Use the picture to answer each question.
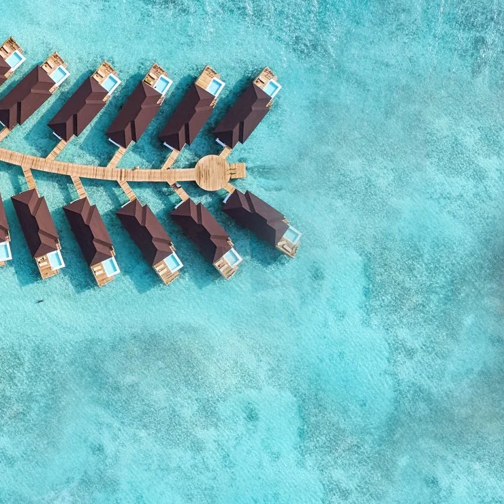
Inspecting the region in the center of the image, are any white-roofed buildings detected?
No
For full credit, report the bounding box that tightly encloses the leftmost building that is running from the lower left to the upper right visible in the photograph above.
[0,51,67,129]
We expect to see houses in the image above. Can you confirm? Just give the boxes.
[63,197,115,287]
[158,67,220,152]
[0,190,11,242]
[209,65,278,148]
[168,197,239,280]
[219,189,300,262]
[115,199,179,285]
[11,188,60,279]
[47,61,118,142]
[0,51,67,129]
[105,64,169,149]
[0,35,23,87]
